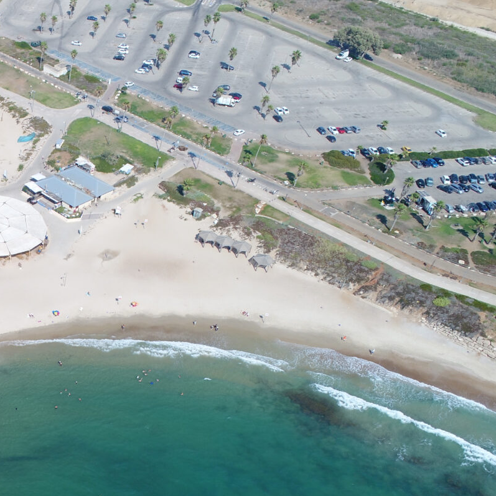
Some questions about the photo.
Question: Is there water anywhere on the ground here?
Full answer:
Yes, there is water in the image.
